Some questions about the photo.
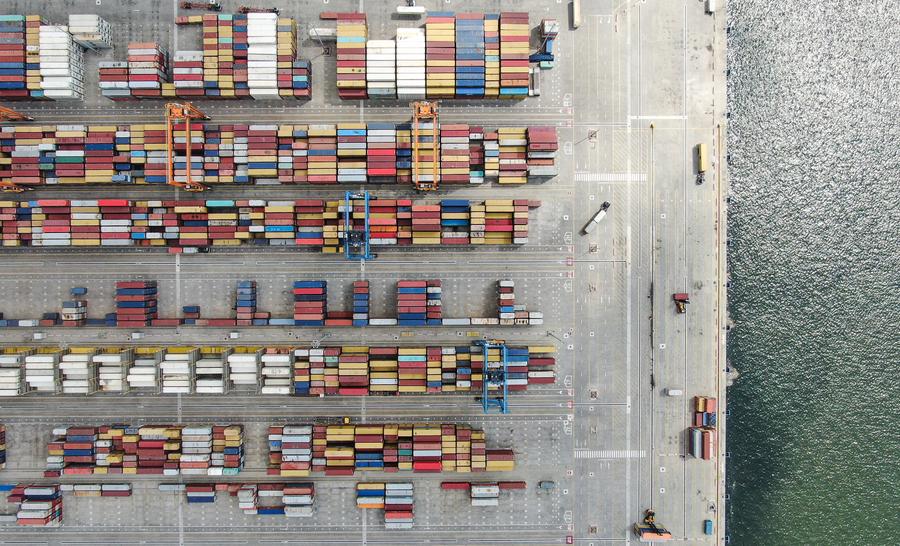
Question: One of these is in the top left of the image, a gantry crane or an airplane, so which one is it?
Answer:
gantry crane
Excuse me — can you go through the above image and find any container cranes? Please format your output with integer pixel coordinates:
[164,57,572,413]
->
[345,187,378,259]
[411,99,442,191]
[163,100,211,192]
[476,339,508,413]
[0,101,33,192]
